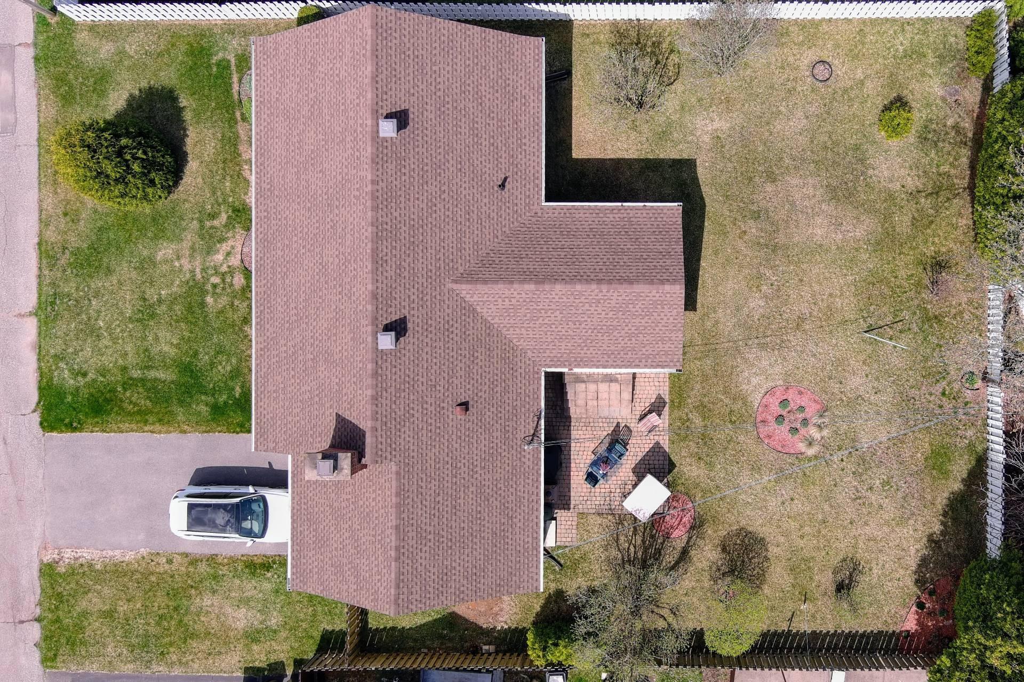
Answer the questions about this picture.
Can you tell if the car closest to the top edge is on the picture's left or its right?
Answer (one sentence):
You can find the car closest to the top edge on the left side of the picture.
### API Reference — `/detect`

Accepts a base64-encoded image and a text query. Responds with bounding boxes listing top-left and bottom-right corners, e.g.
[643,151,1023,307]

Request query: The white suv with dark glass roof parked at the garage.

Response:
[169,481,286,547]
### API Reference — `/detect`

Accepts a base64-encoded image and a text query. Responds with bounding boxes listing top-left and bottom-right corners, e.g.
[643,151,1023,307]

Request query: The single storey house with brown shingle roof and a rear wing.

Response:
[250,4,684,616]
